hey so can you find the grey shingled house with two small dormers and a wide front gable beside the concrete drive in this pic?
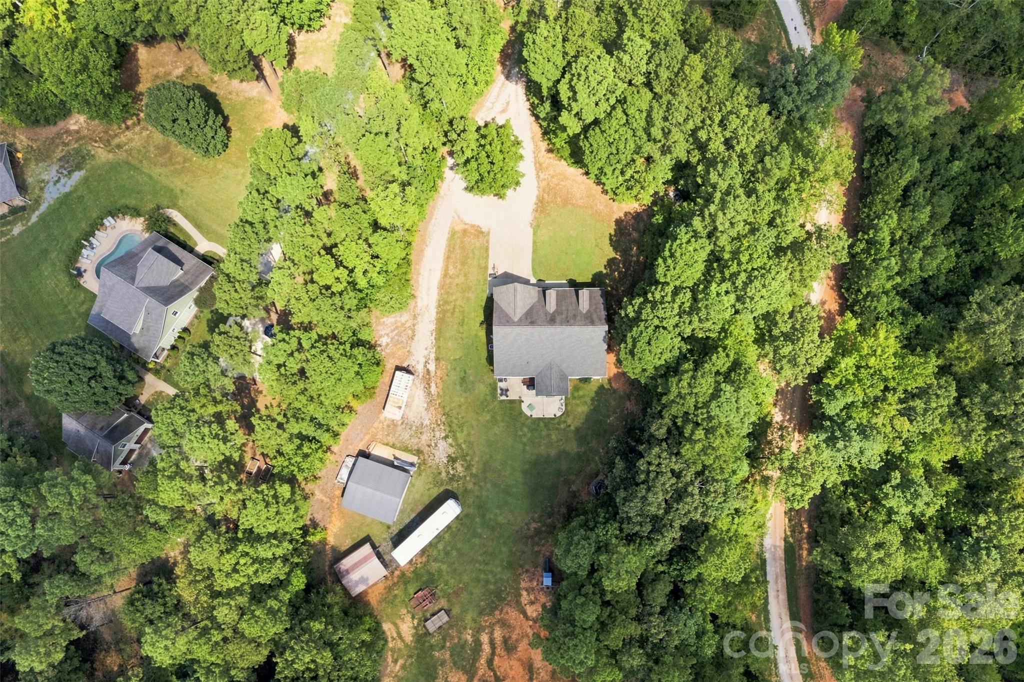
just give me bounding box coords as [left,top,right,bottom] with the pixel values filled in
[492,282,608,397]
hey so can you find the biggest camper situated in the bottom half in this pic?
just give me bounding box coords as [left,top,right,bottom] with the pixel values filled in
[392,494,463,566]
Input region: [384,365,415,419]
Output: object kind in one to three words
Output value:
trailer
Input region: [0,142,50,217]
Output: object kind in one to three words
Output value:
house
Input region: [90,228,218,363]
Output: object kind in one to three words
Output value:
house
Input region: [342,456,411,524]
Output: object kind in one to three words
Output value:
building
